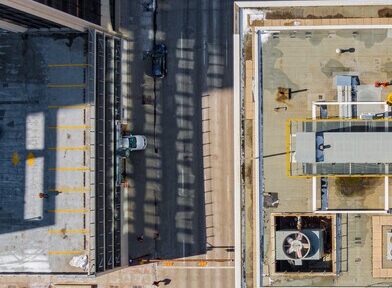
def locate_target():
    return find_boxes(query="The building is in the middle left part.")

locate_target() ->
[0,28,123,276]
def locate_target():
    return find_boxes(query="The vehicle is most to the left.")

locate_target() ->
[123,134,148,151]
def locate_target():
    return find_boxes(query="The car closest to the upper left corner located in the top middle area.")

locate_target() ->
[150,44,167,78]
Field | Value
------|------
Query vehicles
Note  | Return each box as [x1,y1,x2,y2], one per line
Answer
[123,134,148,151]
[150,44,167,78]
